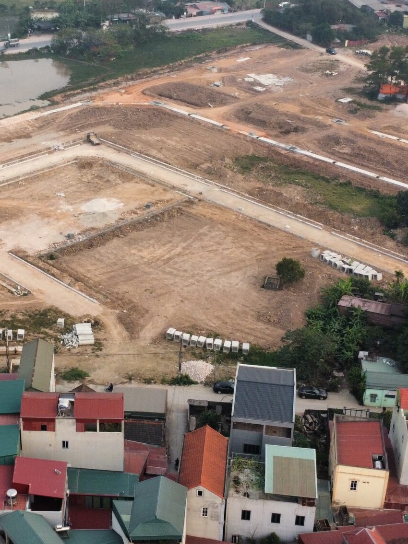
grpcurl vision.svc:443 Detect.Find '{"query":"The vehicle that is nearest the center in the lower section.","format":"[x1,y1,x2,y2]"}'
[209,381,234,394]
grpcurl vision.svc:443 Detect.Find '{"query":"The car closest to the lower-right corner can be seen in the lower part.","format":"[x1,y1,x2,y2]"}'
[299,386,329,400]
